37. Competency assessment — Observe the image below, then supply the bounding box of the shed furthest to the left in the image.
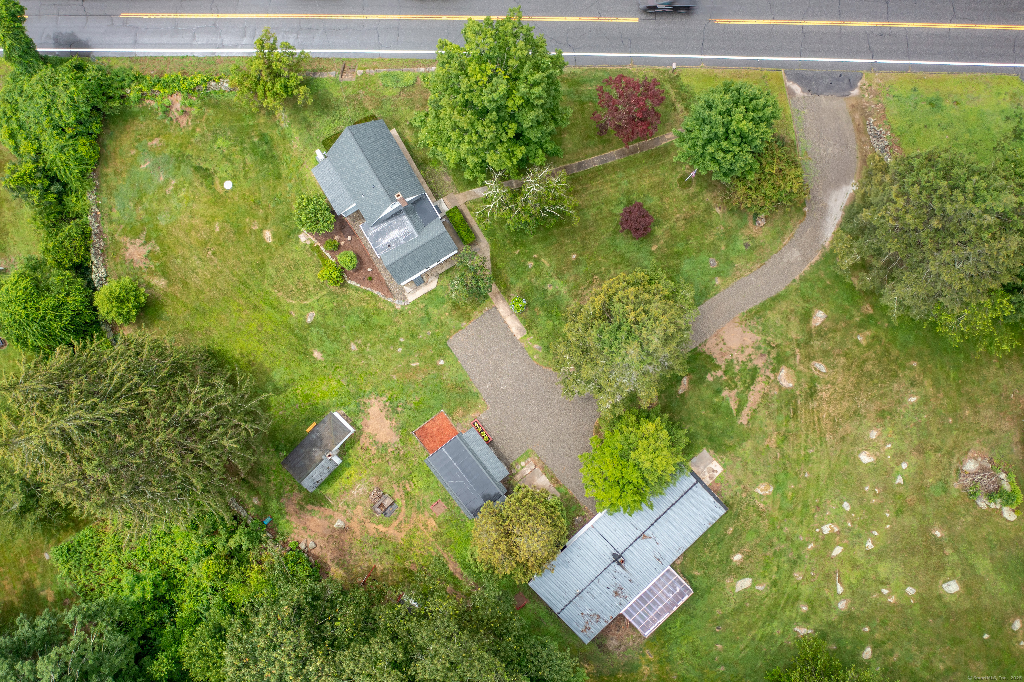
[281,411,357,492]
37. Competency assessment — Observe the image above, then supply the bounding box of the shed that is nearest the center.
[424,428,510,522]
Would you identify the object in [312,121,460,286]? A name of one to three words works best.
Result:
house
